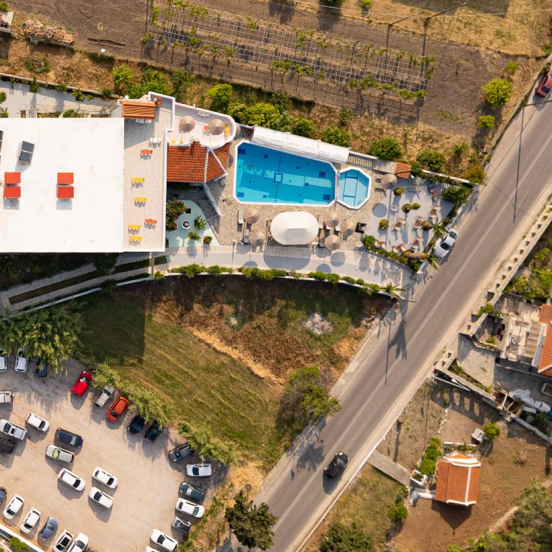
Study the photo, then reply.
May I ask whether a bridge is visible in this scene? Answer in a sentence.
No, there is no bridge in the image.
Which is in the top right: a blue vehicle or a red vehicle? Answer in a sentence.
It is a red vehicle that can be seen in the top right.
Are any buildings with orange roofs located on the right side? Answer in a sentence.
Yes, on the right side there is a building with an orange roof.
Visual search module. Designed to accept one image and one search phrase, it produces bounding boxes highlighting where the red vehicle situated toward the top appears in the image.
[534,66,552,99]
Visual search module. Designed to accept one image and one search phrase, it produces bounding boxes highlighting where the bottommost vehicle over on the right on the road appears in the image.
[322,450,345,478]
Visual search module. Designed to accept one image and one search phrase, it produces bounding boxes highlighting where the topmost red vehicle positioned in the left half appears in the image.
[70,369,89,398]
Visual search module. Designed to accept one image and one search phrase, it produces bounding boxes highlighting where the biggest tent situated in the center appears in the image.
[268,210,317,245]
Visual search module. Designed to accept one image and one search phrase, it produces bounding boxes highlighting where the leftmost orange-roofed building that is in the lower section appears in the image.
[425,444,482,512]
